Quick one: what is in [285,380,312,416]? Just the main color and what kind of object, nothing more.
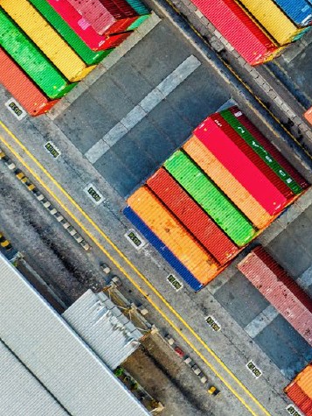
red shipping container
